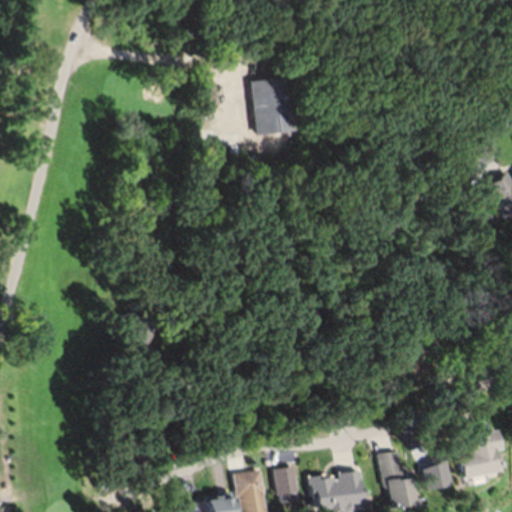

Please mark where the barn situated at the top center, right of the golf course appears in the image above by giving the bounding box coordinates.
[251,76,304,135]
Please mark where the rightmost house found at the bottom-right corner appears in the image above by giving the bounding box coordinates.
[466,434,511,484]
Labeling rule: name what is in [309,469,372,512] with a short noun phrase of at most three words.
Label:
house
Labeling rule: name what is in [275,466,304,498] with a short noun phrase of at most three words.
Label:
house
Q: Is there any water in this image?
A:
No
